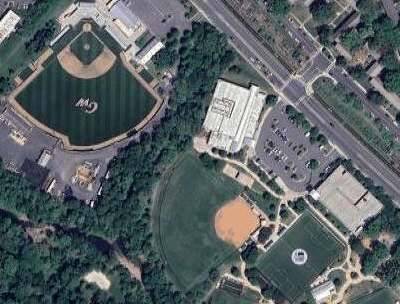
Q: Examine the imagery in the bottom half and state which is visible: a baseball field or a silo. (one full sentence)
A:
Looking in the bottom half, you will find a baseball field.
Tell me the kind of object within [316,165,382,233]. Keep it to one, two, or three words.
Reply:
building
